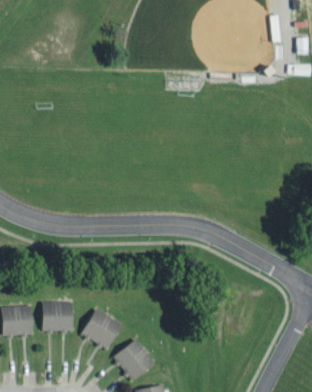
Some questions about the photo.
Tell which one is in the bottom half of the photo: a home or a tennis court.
home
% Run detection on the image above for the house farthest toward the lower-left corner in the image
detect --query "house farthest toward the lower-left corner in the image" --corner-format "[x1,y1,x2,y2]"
[2,304,34,338]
